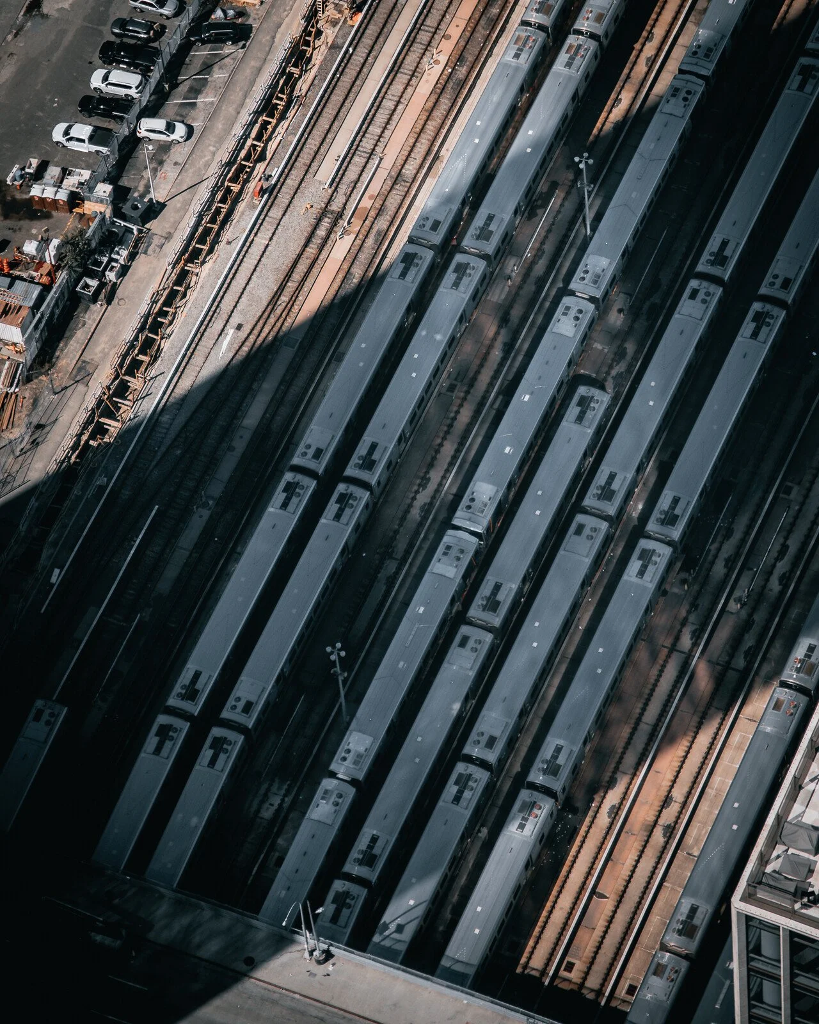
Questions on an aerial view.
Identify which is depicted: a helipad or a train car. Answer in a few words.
train car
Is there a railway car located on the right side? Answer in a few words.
Yes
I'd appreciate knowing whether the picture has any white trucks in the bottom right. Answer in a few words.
No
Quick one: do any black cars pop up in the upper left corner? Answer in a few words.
Yes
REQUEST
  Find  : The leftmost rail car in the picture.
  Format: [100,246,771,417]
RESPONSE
[0,699,71,833]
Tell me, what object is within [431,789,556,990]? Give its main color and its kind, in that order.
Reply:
gray rail car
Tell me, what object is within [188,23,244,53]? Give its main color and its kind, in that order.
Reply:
black car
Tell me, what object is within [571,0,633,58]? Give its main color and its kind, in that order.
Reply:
gray rail car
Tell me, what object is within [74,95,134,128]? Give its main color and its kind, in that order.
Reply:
black truck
